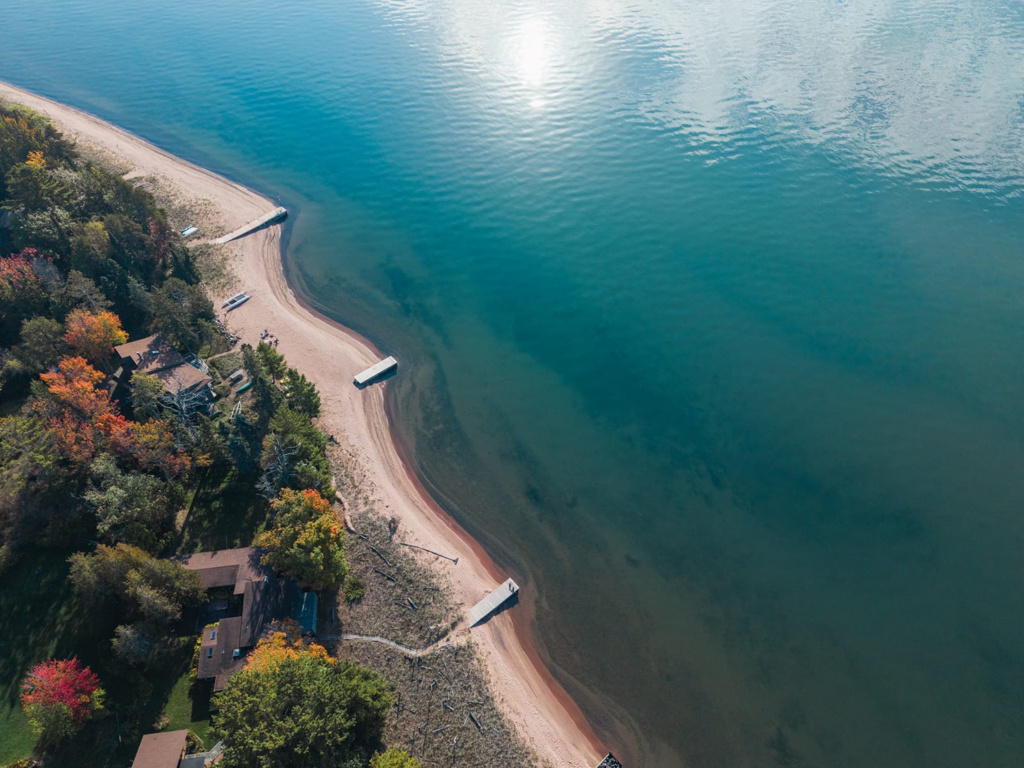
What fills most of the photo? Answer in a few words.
water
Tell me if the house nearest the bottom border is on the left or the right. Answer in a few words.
left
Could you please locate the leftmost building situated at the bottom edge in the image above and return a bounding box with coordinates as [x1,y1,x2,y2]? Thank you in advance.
[131,729,206,768]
